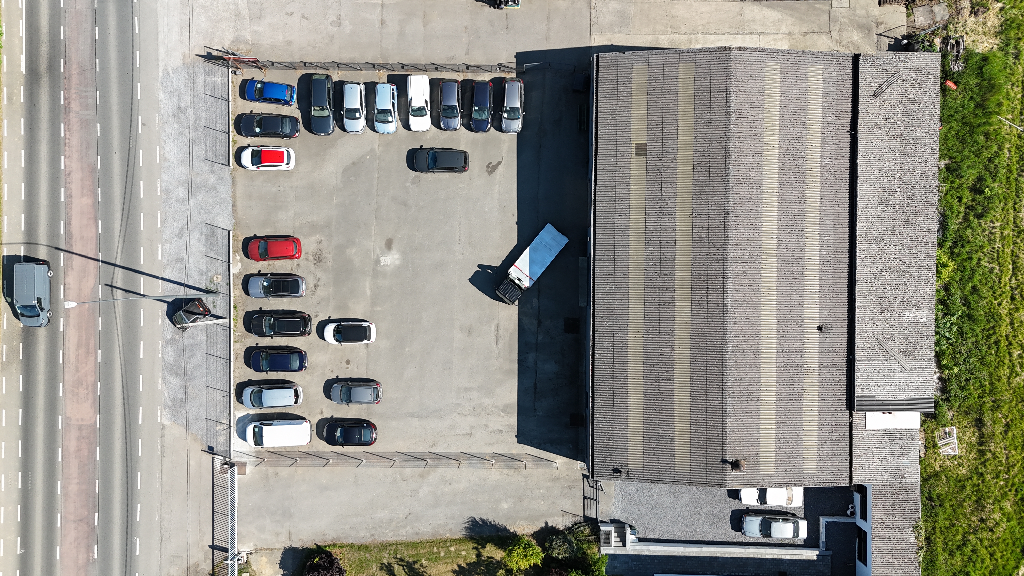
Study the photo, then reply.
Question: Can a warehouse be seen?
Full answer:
Yes, the frame does contain a warehouse.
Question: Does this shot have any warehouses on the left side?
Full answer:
No, no warehouse is visible on the left side.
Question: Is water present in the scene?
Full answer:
No, the scene doesn't show any water.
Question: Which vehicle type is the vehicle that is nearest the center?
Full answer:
I'd identify the vehicle that is nearest the center as a truck.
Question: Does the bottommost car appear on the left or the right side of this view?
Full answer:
The bottommost car appears in the right half of the scene.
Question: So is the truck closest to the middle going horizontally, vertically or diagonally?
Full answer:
In this picture, the truck closest to the middle lies diagonally.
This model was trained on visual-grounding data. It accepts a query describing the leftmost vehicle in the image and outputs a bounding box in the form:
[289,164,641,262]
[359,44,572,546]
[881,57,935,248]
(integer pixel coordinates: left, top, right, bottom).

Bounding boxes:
[16,262,57,327]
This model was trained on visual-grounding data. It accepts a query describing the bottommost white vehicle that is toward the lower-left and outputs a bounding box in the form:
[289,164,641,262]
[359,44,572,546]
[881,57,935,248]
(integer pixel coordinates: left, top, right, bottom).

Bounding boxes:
[246,420,313,450]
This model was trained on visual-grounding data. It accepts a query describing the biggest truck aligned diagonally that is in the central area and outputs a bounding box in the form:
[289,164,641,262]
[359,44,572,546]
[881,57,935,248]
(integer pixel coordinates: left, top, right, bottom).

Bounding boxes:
[494,223,568,306]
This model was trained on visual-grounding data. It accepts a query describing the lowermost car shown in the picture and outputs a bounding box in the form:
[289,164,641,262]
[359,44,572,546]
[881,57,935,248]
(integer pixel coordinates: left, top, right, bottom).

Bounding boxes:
[739,512,806,542]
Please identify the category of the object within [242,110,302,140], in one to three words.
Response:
car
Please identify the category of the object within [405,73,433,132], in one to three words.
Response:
van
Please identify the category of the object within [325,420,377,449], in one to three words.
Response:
car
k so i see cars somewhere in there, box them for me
[338,82,367,135]
[252,347,309,375]
[249,234,303,263]
[739,512,806,542]
[176,298,214,333]
[242,110,302,140]
[307,75,337,137]
[252,311,312,341]
[246,77,298,109]
[243,382,304,411]
[249,271,307,302]
[325,420,377,449]
[468,81,495,134]
[324,319,376,348]
[242,143,297,172]
[415,146,469,175]
[736,488,803,511]
[331,380,384,408]
[436,80,463,132]
[498,79,526,135]
[371,84,398,135]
